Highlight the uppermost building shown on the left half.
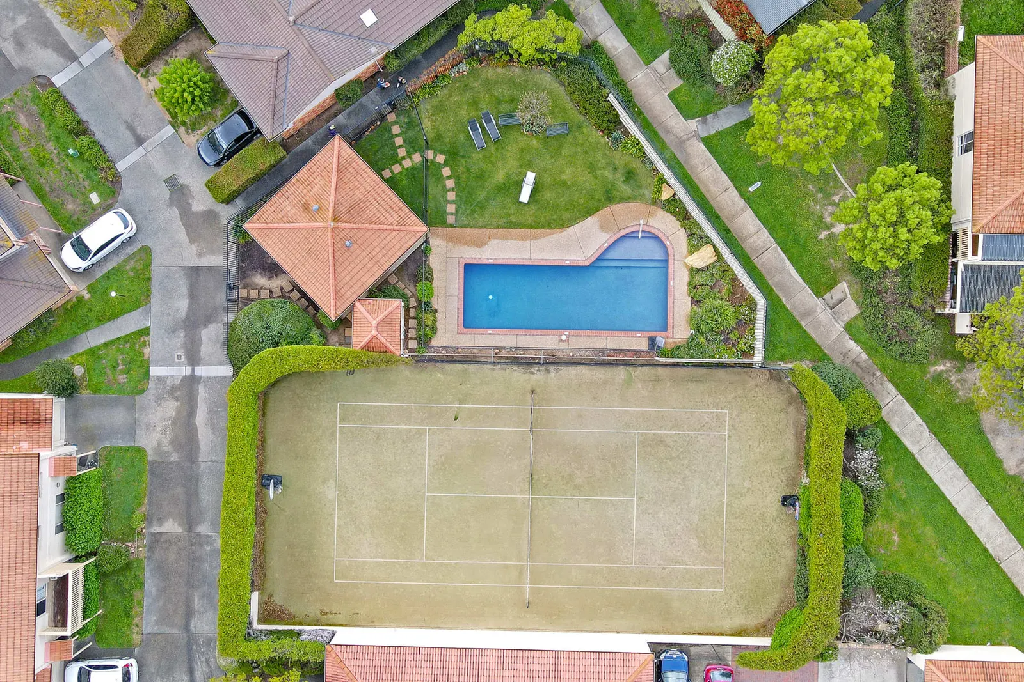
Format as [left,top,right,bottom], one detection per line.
[185,0,457,149]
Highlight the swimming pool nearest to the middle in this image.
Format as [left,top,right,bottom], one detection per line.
[464,231,668,331]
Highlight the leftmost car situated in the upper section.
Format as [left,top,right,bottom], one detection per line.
[60,208,138,268]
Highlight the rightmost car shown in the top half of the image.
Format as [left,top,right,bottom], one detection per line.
[193,107,264,166]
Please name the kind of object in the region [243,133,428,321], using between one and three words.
building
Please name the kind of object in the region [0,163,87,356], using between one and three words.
house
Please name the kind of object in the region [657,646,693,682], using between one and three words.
car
